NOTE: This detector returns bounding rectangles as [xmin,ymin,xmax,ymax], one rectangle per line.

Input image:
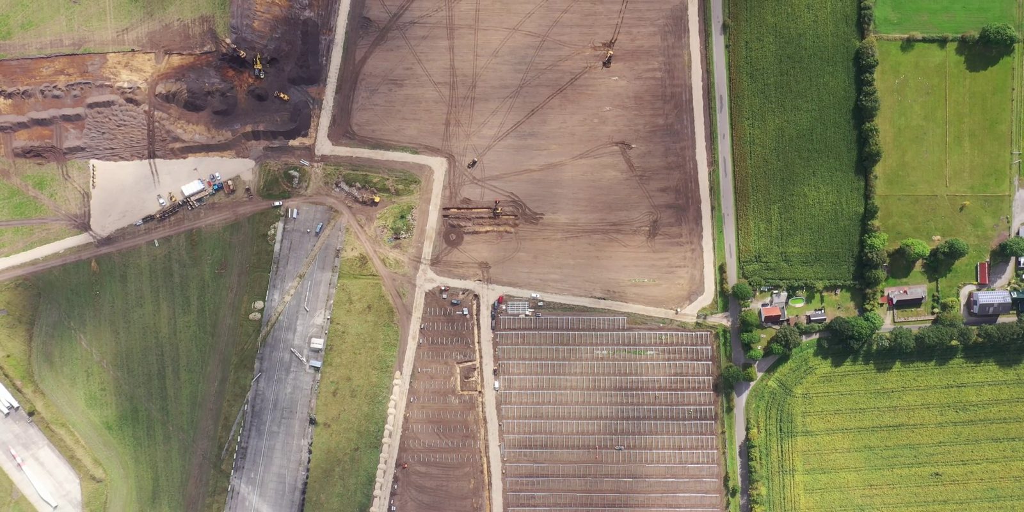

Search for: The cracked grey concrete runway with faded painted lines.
[223,204,349,512]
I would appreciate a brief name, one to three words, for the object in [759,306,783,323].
house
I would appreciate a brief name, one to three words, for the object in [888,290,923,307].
house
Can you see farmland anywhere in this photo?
Yes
